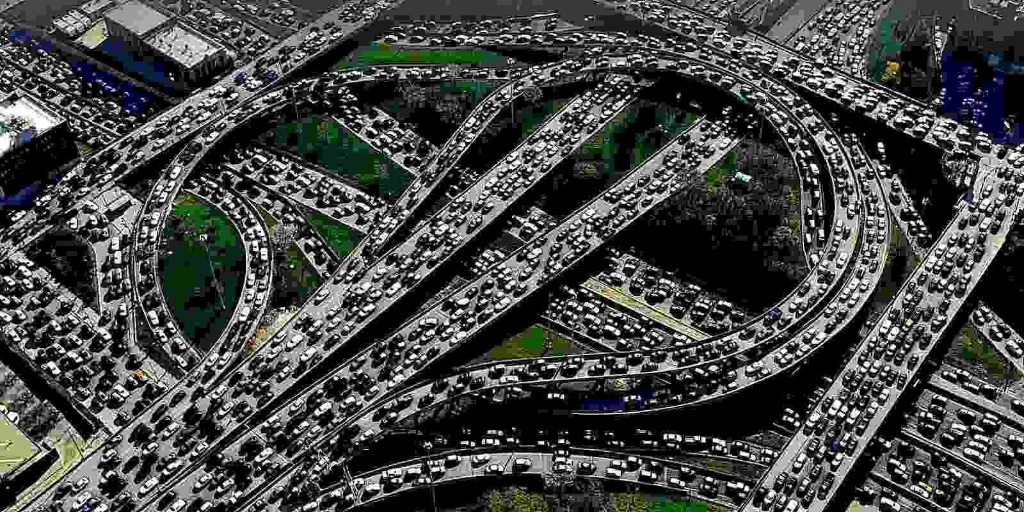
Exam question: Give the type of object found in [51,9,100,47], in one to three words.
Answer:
shed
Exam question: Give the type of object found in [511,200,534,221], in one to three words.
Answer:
truck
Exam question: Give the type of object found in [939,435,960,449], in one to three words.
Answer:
car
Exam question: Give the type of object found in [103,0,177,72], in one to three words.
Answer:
building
